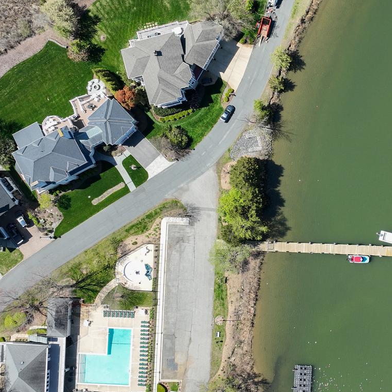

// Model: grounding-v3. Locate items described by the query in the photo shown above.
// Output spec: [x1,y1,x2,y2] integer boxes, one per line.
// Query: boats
[342,255,369,264]
[373,231,392,244]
